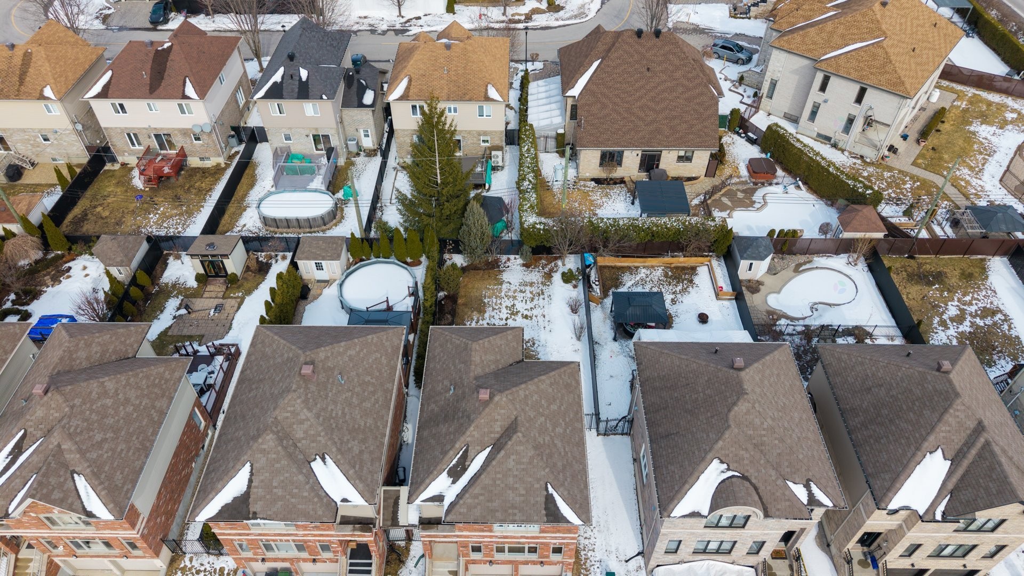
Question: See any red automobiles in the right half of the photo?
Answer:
No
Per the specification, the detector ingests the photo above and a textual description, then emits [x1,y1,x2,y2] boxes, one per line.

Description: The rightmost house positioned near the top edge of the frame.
[750,0,967,171]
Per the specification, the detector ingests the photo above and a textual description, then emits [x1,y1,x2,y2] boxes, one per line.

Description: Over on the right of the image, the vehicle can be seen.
[711,37,756,64]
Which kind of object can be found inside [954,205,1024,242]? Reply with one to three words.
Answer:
gazebo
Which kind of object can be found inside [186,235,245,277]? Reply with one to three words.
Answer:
shed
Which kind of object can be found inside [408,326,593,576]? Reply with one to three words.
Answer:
house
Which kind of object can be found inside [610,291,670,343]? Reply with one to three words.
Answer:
gazebo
